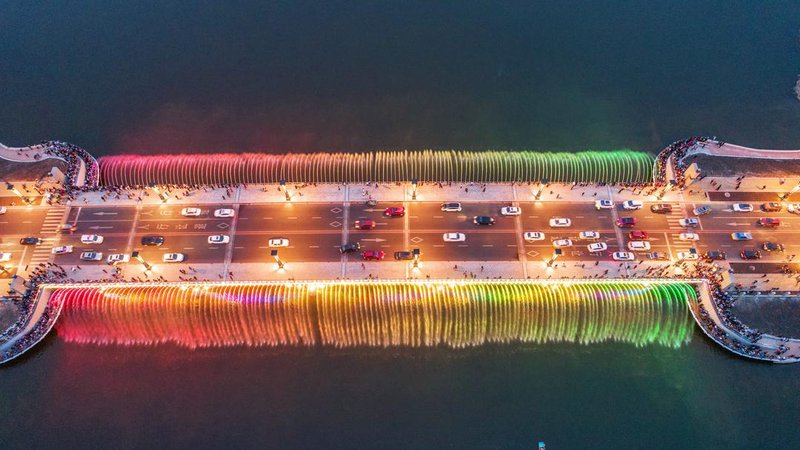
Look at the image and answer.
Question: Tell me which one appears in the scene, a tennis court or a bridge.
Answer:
bridge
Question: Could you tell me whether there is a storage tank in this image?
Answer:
No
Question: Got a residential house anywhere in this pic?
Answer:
No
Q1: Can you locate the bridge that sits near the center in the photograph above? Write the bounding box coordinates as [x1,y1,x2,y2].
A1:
[45,181,705,296]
